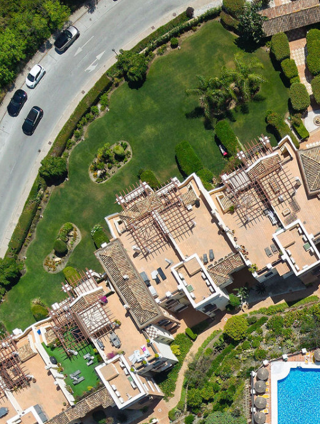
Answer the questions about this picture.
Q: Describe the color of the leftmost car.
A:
black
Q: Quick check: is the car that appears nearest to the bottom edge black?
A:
Yes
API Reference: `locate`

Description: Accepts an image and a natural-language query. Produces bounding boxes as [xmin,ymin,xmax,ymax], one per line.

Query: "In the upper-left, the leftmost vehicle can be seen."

[7,87,29,119]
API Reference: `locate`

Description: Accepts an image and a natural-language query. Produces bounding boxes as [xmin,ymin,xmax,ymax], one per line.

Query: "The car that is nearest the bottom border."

[22,104,45,137]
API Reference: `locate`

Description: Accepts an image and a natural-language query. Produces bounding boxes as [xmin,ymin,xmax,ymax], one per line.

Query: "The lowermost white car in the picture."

[25,62,46,90]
